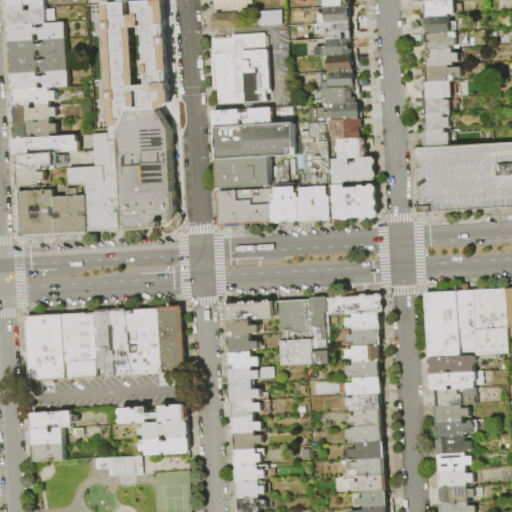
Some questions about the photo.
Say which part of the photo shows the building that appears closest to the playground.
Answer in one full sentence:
The building that appears closest to the playground is located in the bottom left region of the scene.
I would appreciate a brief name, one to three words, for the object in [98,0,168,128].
building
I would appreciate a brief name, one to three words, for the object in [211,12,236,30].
house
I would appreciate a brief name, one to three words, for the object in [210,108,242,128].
building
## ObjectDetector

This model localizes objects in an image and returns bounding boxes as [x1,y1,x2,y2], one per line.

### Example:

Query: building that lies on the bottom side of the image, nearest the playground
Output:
[96,456,144,478]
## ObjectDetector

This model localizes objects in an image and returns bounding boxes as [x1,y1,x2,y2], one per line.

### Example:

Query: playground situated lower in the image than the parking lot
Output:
[84,486,120,512]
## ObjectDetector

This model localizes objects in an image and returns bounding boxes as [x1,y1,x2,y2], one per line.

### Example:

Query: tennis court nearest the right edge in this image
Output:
[156,471,192,512]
